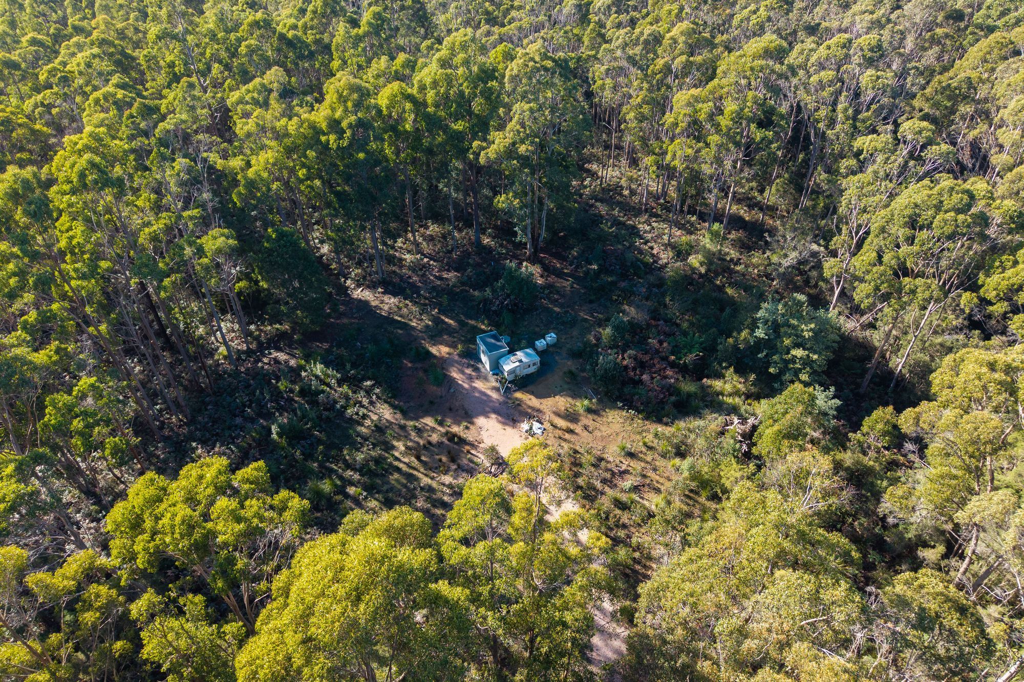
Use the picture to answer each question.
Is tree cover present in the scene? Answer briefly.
Yes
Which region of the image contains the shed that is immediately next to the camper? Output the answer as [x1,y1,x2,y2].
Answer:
[477,330,508,373]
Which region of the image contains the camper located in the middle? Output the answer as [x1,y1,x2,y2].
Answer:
[492,349,540,383]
